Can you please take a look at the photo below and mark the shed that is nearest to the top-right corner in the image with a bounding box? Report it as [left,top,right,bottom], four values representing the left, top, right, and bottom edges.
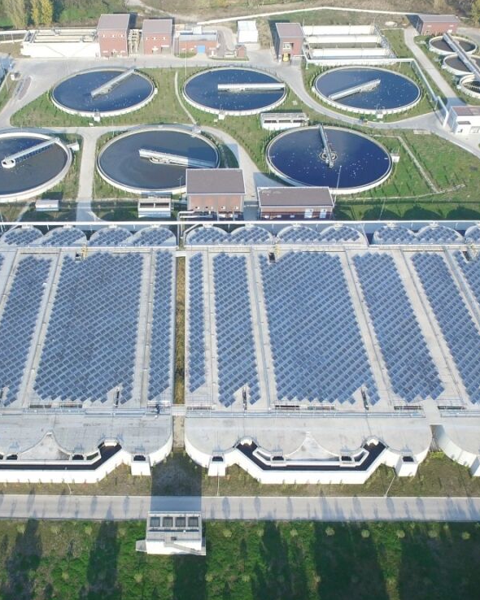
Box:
[415,15,461,34]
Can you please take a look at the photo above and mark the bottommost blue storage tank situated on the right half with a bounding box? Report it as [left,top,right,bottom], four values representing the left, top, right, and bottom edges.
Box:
[265,121,394,195]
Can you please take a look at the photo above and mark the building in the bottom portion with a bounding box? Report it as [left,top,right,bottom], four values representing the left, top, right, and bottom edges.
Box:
[133,508,207,561]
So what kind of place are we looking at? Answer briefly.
industrial area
